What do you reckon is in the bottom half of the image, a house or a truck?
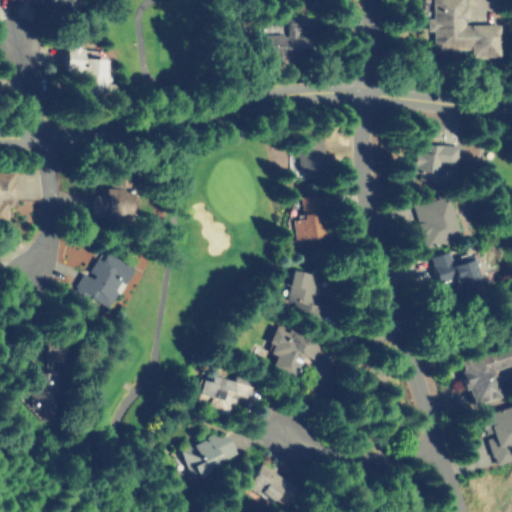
house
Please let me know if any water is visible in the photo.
No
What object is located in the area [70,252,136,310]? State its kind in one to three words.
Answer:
house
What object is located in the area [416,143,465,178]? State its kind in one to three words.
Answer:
house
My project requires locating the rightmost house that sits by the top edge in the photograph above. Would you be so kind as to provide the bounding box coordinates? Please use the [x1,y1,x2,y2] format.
[429,0,504,58]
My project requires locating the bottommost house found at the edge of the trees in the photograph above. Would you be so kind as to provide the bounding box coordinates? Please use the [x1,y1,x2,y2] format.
[248,459,290,503]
